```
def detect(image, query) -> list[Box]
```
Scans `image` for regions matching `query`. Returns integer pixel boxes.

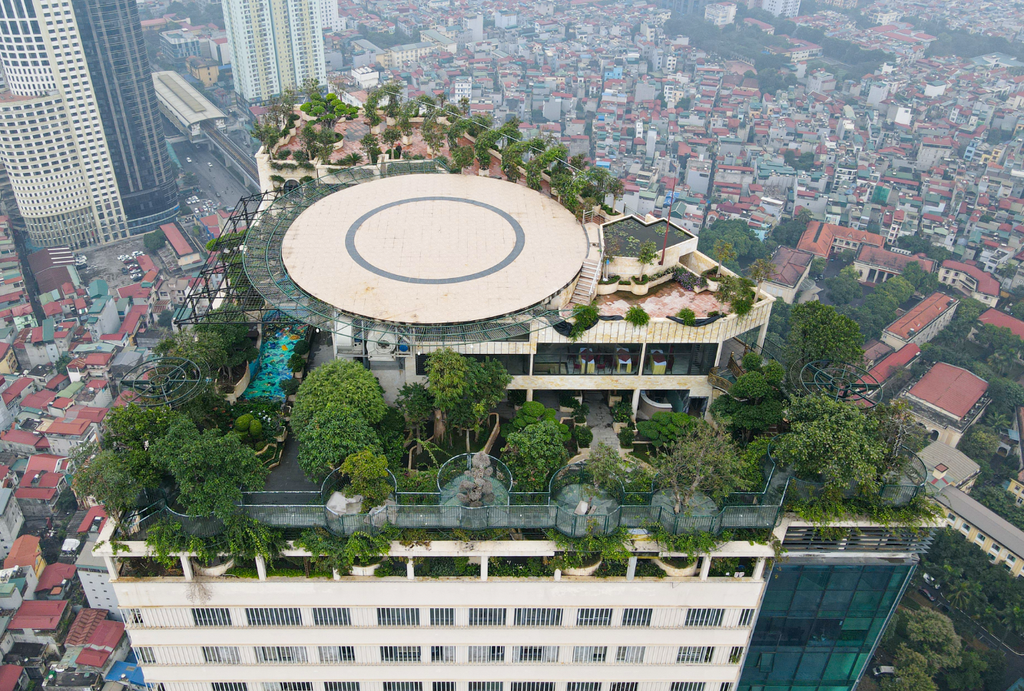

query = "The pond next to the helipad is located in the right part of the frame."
[600,214,700,278]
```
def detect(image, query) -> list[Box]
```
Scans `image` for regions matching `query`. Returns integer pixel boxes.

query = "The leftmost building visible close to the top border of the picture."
[0,0,126,251]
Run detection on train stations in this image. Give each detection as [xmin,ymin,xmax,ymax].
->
[154,65,255,148]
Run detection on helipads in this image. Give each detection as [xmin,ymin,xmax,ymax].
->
[281,174,587,334]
